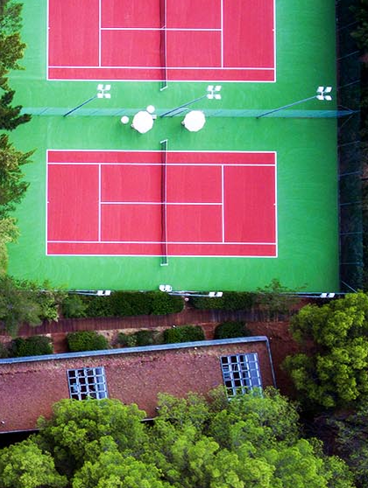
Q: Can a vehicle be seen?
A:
No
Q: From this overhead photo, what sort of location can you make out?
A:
sports ground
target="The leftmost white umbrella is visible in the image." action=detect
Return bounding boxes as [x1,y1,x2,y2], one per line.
[129,111,153,133]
